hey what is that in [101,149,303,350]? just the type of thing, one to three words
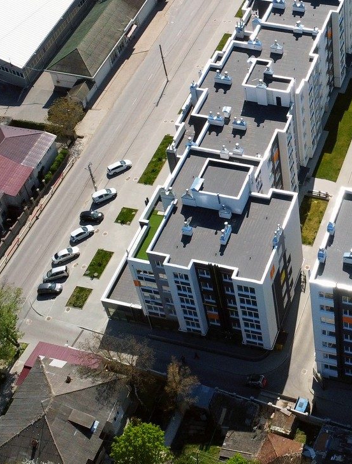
building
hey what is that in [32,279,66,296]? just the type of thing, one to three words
car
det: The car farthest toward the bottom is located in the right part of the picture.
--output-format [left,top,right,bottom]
[292,392,311,420]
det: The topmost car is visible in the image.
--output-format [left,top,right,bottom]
[104,157,134,176]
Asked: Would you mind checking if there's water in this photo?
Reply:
No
